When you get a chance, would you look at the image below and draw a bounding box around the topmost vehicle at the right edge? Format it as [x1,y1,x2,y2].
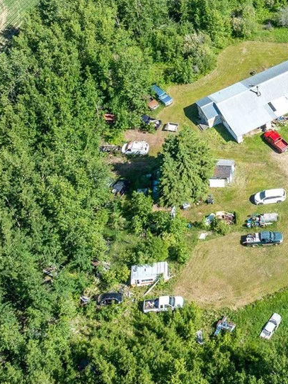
[259,129,288,155]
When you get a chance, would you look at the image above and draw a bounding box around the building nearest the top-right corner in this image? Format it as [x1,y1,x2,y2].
[196,60,288,146]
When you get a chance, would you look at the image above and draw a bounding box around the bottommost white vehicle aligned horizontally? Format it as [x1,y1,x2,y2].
[142,292,187,313]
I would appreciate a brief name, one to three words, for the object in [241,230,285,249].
vehicle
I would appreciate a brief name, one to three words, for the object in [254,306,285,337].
car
